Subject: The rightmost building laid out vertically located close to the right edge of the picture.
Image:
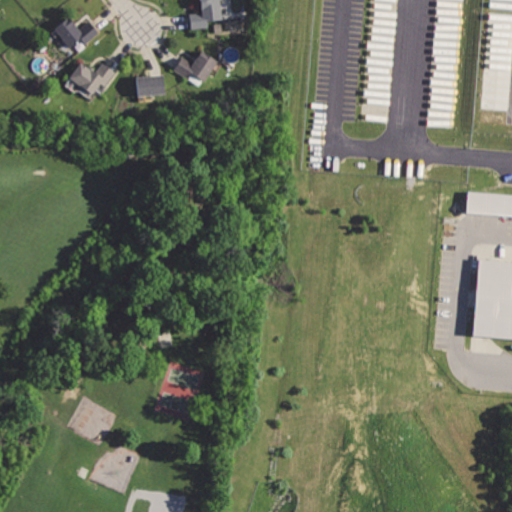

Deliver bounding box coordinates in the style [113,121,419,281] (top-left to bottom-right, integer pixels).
[474,260,512,340]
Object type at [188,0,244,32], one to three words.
house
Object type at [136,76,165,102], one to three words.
house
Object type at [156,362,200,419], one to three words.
sports court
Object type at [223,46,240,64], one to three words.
swimming pool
